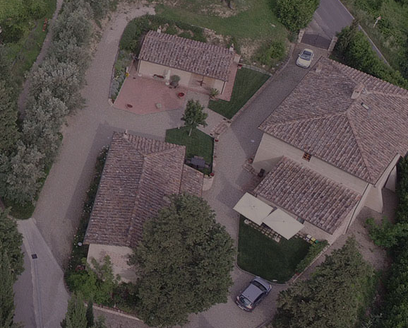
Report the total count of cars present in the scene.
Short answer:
two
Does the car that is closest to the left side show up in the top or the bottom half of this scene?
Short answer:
bottom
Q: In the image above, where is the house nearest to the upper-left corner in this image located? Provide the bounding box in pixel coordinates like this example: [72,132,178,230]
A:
[138,24,235,93]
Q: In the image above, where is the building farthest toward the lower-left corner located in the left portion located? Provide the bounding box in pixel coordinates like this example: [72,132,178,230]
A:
[83,127,208,276]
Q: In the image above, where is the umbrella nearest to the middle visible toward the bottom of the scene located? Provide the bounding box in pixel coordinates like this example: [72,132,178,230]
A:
[234,194,272,228]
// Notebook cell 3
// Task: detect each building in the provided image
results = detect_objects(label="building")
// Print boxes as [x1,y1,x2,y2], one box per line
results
[253,55,408,248]
[138,24,235,93]
[83,127,208,276]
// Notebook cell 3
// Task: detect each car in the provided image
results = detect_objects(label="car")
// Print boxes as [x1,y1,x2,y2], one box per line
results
[234,274,276,309]
[297,42,316,65]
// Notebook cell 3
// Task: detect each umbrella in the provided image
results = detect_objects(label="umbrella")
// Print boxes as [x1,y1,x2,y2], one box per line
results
[262,209,302,242]
[234,194,272,228]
